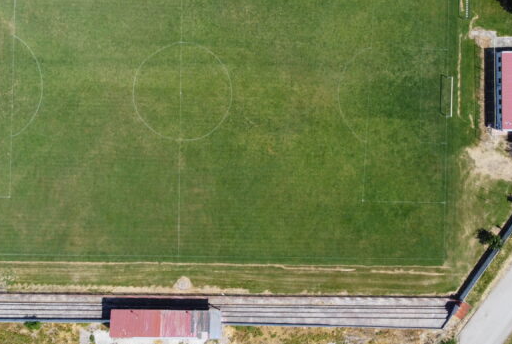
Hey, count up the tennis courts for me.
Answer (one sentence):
I count no tennis courts.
